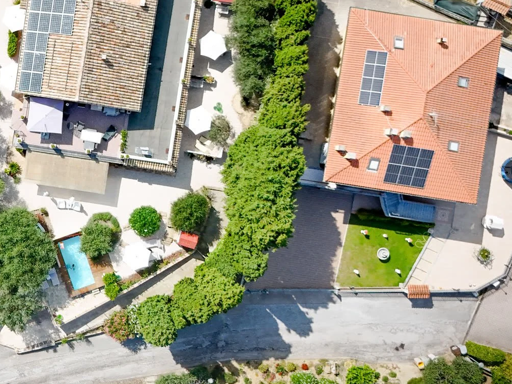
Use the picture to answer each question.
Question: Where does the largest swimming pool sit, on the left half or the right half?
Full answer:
The largest swimming pool is on the left side of the image.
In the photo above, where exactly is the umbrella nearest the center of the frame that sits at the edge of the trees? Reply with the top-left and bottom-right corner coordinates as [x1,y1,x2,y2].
[184,106,212,136]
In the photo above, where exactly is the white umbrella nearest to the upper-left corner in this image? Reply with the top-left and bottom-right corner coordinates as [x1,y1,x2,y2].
[2,6,25,32]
